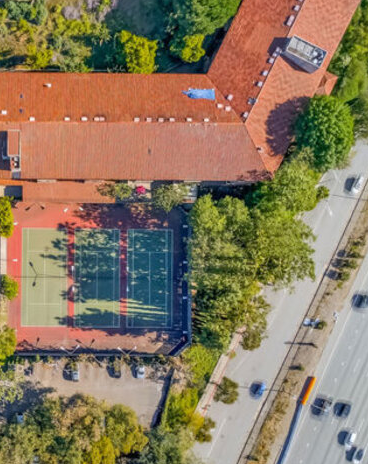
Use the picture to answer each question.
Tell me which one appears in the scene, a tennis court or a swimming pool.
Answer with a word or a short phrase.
tennis court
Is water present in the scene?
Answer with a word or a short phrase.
No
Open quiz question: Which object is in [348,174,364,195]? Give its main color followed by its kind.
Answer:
white car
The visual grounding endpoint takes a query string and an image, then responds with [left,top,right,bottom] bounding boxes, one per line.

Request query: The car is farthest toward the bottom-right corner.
[350,445,365,464]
